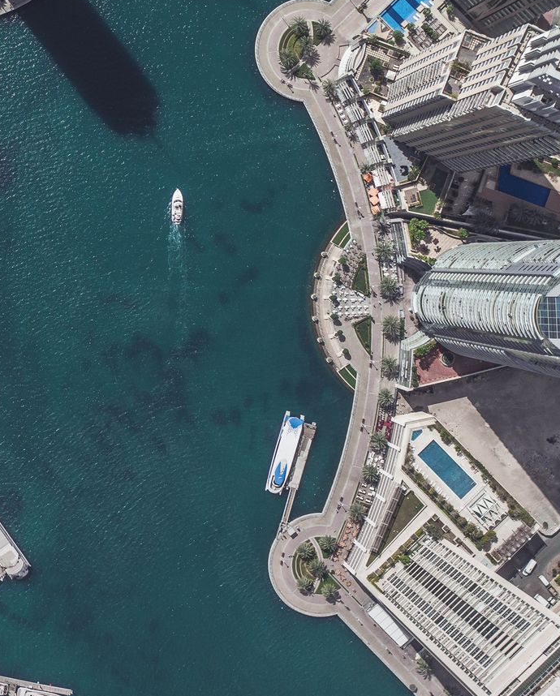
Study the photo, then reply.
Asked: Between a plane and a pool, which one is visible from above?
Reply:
pool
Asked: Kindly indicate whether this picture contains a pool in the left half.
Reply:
No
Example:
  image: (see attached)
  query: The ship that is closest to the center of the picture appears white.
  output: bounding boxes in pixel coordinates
[267,410,305,496]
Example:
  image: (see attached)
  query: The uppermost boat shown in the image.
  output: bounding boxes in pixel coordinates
[171,188,183,225]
